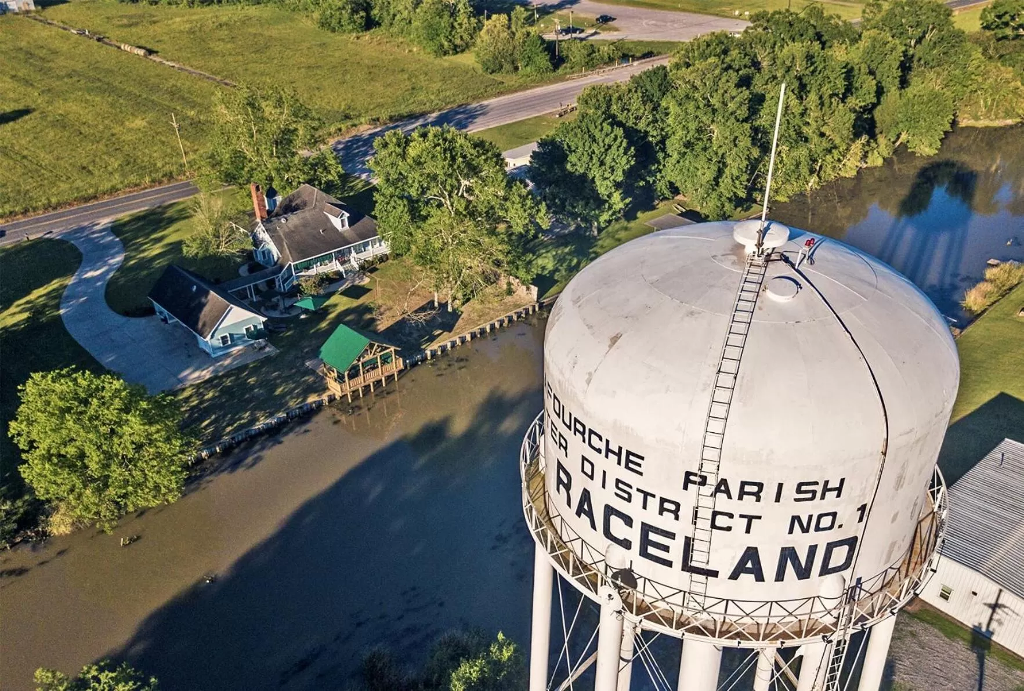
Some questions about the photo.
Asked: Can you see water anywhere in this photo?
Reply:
Yes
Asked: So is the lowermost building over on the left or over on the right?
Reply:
right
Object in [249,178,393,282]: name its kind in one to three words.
house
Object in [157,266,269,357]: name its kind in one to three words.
building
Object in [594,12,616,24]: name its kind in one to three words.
vehicle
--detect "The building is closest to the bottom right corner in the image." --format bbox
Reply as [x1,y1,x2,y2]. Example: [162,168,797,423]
[918,424,1024,656]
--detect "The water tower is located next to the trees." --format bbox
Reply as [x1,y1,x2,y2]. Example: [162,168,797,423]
[518,83,956,691]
